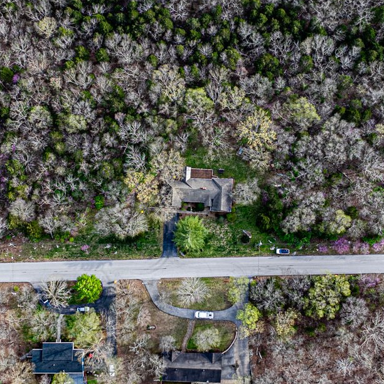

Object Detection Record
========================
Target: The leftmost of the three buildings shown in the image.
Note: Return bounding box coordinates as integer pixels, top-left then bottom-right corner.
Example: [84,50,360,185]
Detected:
[31,340,86,384]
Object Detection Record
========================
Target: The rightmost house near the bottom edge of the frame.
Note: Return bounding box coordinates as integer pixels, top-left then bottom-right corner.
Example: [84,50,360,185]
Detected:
[162,353,224,384]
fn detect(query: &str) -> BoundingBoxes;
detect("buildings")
[31,340,86,384]
[162,353,224,384]
[170,168,233,212]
